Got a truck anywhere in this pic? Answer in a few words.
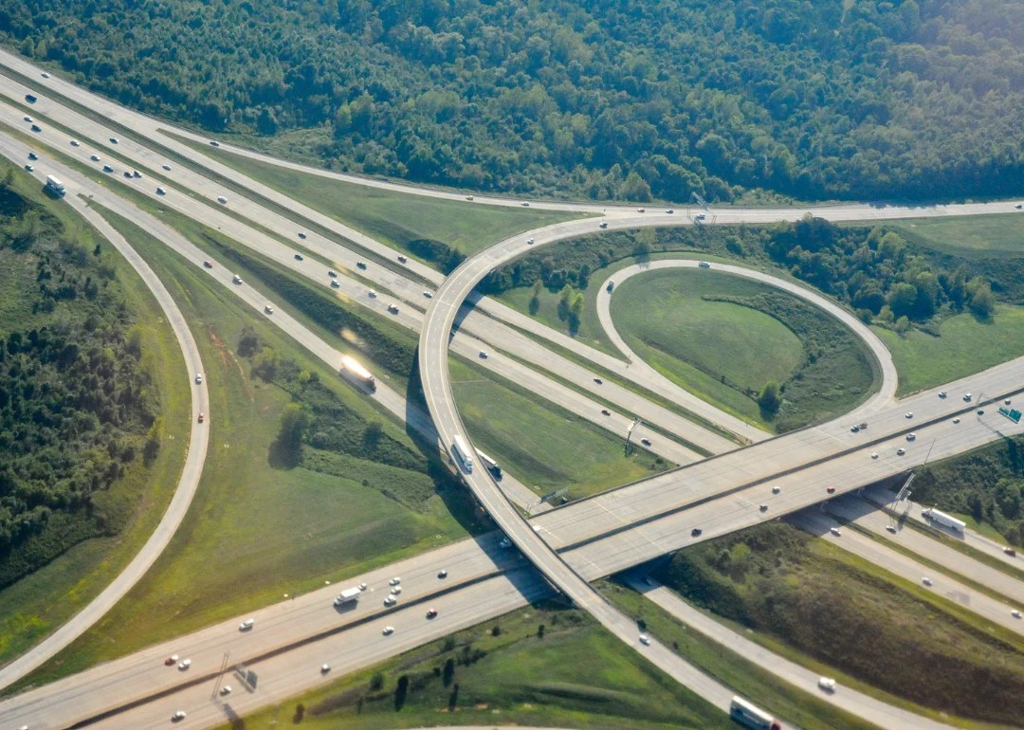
Yes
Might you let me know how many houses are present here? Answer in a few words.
0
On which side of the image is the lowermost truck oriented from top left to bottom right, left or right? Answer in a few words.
right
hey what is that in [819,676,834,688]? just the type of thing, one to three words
vehicle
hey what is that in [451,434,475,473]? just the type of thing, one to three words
truck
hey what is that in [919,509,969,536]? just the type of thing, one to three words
truck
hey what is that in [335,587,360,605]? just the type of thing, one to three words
vehicle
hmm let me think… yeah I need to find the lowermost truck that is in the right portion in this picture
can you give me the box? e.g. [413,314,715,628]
[727,694,780,730]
